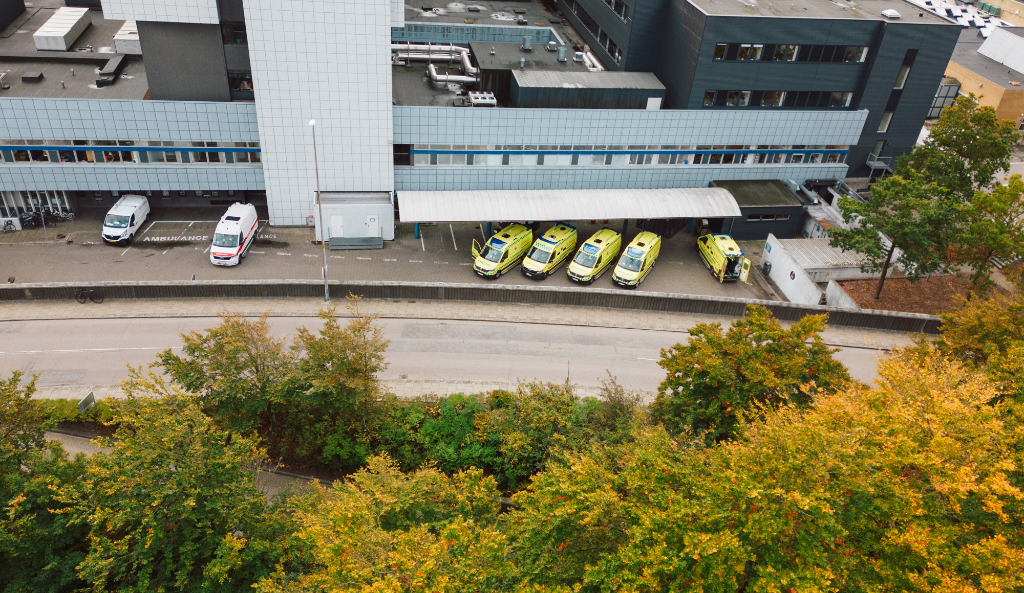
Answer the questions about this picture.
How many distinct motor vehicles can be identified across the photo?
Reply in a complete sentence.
The count of motor vehicles comes to 7.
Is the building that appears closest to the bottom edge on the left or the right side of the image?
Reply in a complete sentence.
The building that appears closest to the bottom edge sits on the right side.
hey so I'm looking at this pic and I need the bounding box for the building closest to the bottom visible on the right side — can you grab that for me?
[777,237,901,285]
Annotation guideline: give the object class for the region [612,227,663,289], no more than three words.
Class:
van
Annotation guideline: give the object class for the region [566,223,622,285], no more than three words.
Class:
van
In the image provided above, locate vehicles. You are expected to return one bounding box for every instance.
[472,220,534,280]
[101,197,150,246]
[612,227,663,289]
[520,219,580,281]
[566,223,622,285]
[211,201,260,267]
[695,234,758,283]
